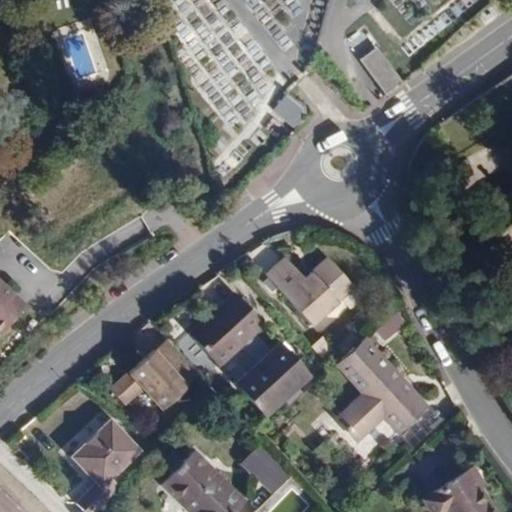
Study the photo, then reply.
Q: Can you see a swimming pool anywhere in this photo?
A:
Yes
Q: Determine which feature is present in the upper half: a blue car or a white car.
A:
white car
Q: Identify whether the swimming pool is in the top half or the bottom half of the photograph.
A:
top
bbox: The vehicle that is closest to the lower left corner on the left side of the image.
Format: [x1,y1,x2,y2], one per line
[34,428,54,448]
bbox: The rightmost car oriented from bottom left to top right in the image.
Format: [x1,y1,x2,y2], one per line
[384,99,410,118]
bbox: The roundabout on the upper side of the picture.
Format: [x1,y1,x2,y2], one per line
[321,146,358,182]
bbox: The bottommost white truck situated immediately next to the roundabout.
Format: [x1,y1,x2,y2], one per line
[318,130,350,154]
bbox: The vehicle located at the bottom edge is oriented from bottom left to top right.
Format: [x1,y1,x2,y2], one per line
[250,488,270,506]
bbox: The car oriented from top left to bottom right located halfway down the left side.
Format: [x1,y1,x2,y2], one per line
[20,255,40,274]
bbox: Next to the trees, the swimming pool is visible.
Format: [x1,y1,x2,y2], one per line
[62,29,109,82]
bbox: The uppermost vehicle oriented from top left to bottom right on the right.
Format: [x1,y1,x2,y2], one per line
[415,310,433,332]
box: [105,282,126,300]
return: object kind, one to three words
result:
car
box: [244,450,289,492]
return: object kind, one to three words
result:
shed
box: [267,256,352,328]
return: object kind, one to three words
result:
house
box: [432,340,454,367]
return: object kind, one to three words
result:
vehicle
